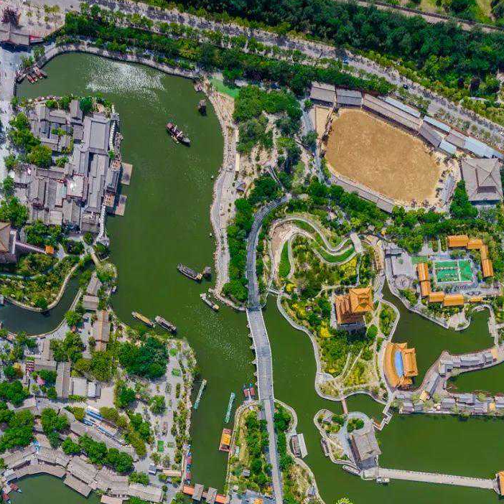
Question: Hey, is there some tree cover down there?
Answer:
Yes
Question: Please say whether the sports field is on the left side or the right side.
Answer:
right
